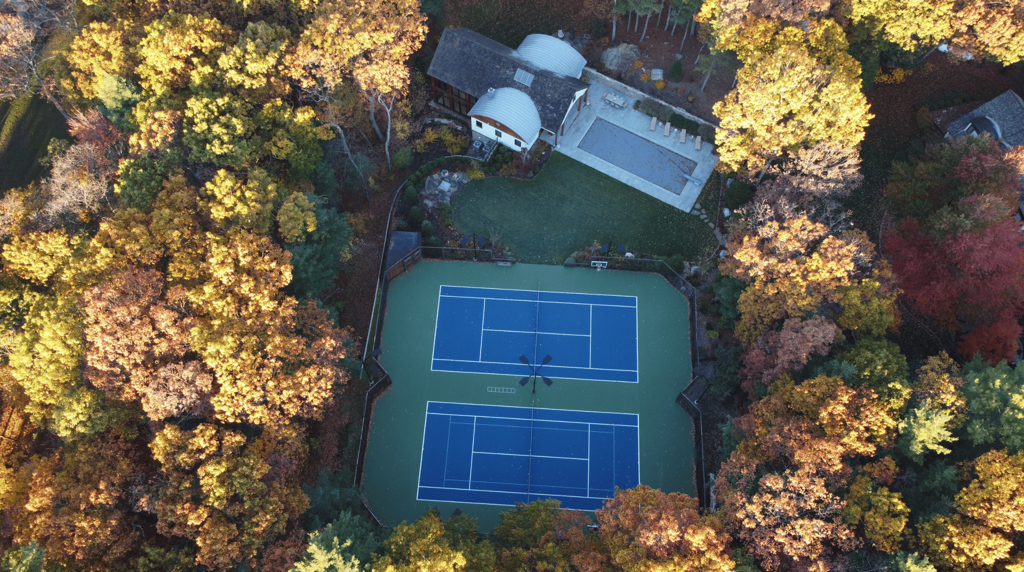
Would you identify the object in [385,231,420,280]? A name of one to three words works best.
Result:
shed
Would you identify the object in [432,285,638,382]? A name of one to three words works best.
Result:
tennis court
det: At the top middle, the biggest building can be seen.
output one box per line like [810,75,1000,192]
[427,27,591,156]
